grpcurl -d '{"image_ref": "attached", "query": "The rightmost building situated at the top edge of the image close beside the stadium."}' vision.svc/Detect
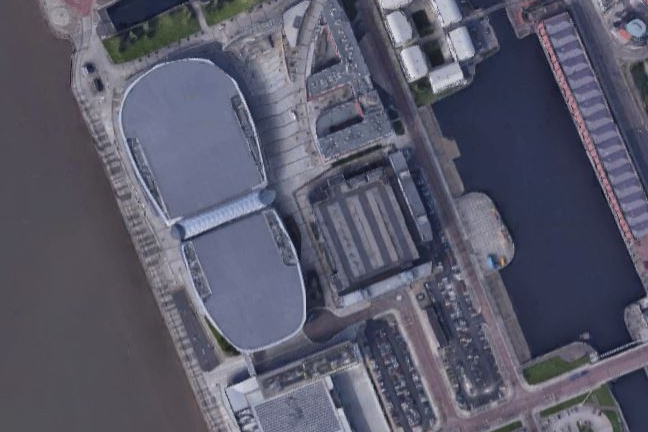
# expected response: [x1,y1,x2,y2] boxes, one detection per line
[306,0,393,165]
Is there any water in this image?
Yes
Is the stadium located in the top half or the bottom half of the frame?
top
